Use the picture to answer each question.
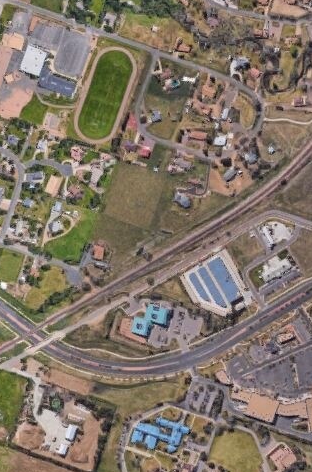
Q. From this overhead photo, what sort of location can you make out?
residential area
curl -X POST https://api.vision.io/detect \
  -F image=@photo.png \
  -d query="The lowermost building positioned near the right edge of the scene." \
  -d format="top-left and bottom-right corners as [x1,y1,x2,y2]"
[269,444,296,470]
